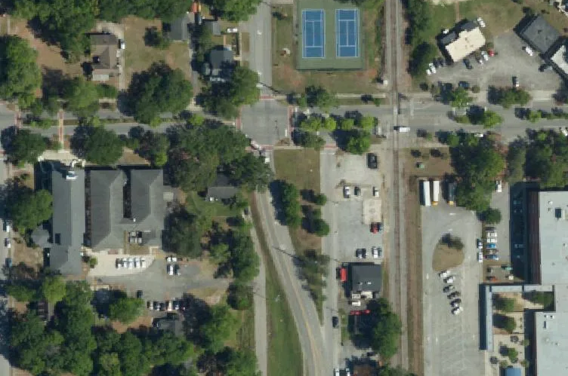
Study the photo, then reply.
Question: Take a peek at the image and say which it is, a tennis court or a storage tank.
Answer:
tennis court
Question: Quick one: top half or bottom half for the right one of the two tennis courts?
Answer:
top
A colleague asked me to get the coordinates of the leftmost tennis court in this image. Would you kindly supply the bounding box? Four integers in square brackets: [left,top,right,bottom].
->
[302,8,326,57]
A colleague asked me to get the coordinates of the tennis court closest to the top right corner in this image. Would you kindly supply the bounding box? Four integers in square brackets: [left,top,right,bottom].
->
[337,8,359,57]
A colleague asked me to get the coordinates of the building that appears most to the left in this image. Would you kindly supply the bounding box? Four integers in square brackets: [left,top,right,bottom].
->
[30,169,84,275]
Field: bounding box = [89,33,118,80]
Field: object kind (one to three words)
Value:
house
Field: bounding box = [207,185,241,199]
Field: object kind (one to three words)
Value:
house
